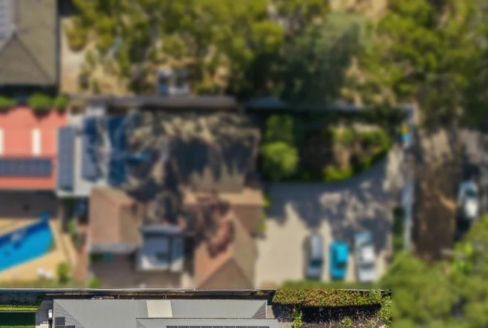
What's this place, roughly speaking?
residential area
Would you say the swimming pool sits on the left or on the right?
left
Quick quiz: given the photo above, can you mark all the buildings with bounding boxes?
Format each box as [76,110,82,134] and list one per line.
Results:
[0,0,59,92]
[48,299,280,328]
[0,104,67,193]
[88,111,264,289]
